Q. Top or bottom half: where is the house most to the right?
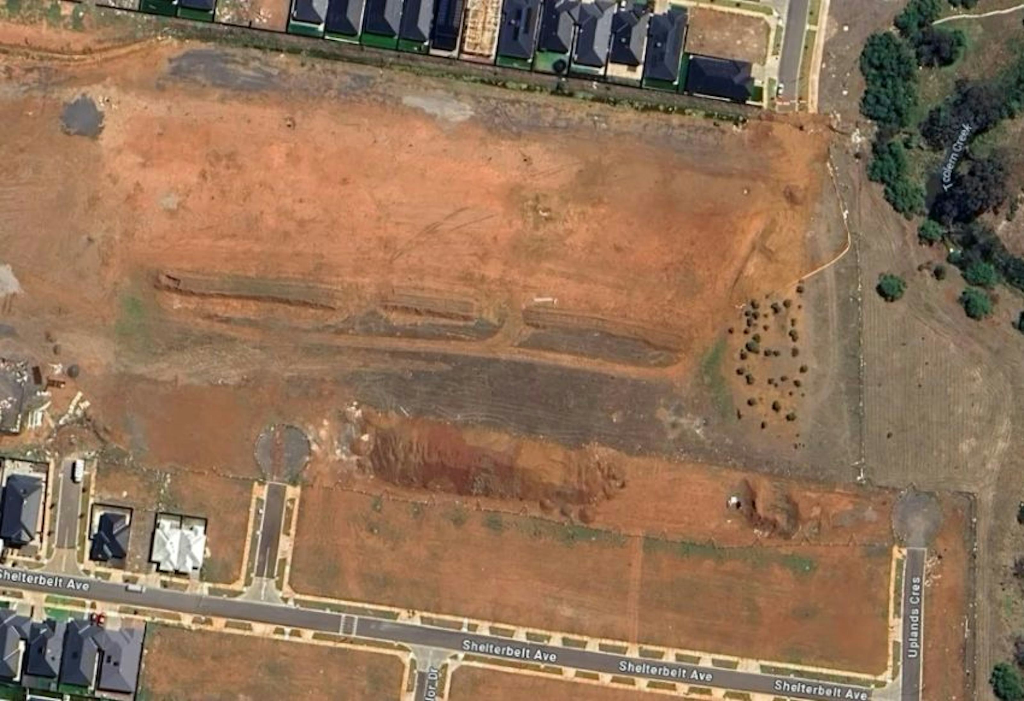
top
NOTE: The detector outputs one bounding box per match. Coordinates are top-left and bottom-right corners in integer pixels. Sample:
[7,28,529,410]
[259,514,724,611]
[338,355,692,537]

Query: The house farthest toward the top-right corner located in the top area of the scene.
[688,59,757,100]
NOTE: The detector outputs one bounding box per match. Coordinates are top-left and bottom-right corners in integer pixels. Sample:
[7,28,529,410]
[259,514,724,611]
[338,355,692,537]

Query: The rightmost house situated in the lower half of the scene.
[152,517,209,578]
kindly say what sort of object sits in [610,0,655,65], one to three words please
house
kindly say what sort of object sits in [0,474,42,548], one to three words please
house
